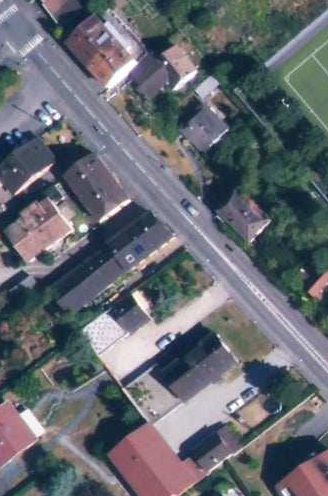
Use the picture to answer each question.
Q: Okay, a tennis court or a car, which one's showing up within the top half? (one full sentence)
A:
It is a car that can be seen within the top half.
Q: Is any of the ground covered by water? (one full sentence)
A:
No, no water is visible.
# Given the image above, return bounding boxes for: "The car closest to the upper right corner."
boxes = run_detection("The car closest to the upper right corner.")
[181,199,198,215]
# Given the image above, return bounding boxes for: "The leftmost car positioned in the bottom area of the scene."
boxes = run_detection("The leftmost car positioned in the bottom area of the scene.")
[157,333,174,348]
